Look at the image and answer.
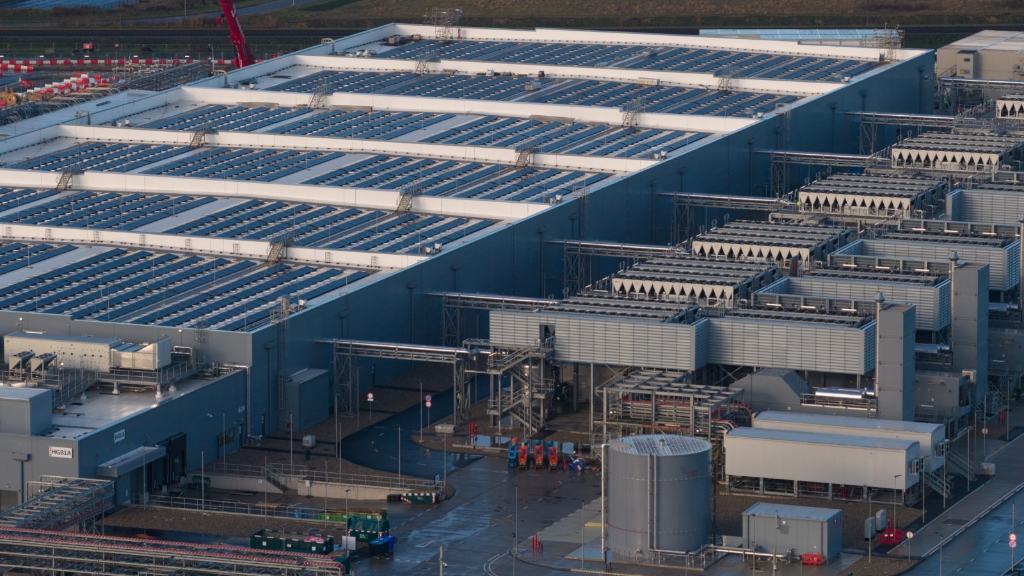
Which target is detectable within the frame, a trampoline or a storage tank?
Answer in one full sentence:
There is a storage tank in the scene.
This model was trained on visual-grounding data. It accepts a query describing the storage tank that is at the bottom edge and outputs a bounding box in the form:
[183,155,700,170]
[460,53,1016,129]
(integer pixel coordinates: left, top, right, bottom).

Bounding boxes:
[567,433,743,572]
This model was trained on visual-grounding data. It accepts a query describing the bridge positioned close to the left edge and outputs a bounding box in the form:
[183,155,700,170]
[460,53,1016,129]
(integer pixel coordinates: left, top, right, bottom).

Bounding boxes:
[0,479,118,561]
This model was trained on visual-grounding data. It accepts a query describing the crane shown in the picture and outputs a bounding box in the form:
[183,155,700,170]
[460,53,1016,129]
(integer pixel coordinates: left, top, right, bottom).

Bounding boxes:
[211,0,260,70]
